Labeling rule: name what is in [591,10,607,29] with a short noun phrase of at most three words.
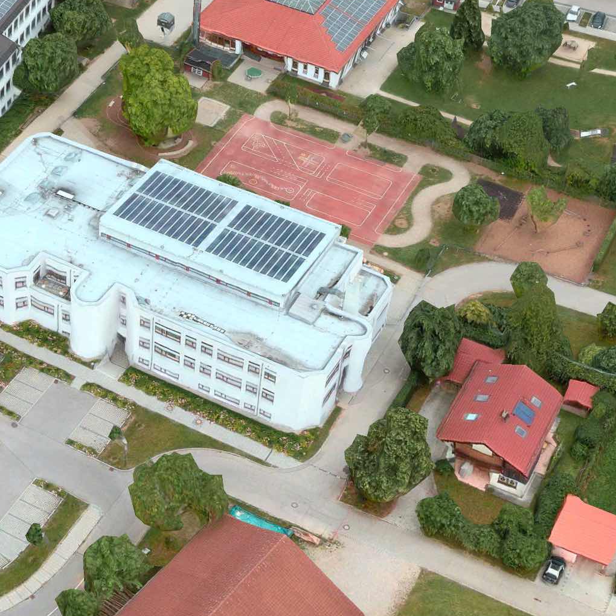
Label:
car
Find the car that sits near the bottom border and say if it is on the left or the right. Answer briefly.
right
